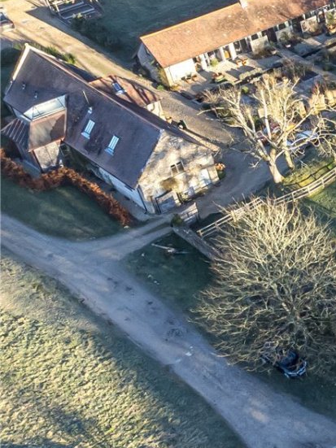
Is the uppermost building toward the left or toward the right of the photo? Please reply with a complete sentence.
The uppermost building is on the right side of the image.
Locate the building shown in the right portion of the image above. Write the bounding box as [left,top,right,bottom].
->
[124,0,336,85]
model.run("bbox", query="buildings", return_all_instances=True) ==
[0,42,230,216]
[124,0,336,85]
